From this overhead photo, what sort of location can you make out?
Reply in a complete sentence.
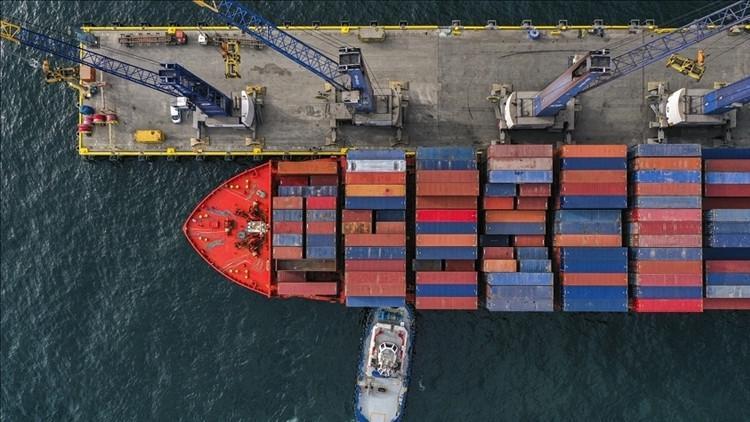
The area seen from above is a port.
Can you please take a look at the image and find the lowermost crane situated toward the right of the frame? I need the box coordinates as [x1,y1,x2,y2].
[650,75,750,146]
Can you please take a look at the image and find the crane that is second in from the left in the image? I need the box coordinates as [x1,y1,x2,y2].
[176,0,411,145]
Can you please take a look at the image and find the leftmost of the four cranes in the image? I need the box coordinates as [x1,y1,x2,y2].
[0,15,274,149]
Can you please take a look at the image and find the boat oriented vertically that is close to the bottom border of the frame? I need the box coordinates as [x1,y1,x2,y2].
[351,304,418,422]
